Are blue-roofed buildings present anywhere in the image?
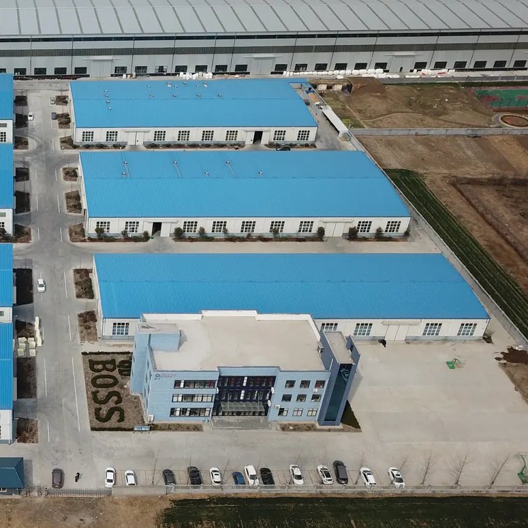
Yes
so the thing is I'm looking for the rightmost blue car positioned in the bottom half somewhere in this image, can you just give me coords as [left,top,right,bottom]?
[231,469,245,486]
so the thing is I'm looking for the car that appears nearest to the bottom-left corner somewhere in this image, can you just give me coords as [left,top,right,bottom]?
[50,467,63,490]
